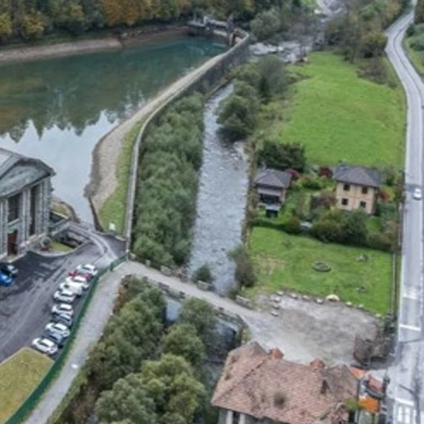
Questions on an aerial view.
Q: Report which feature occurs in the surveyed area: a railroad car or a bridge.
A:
bridge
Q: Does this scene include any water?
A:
Yes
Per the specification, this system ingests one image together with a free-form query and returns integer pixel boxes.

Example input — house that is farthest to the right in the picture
[338,162,383,208]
